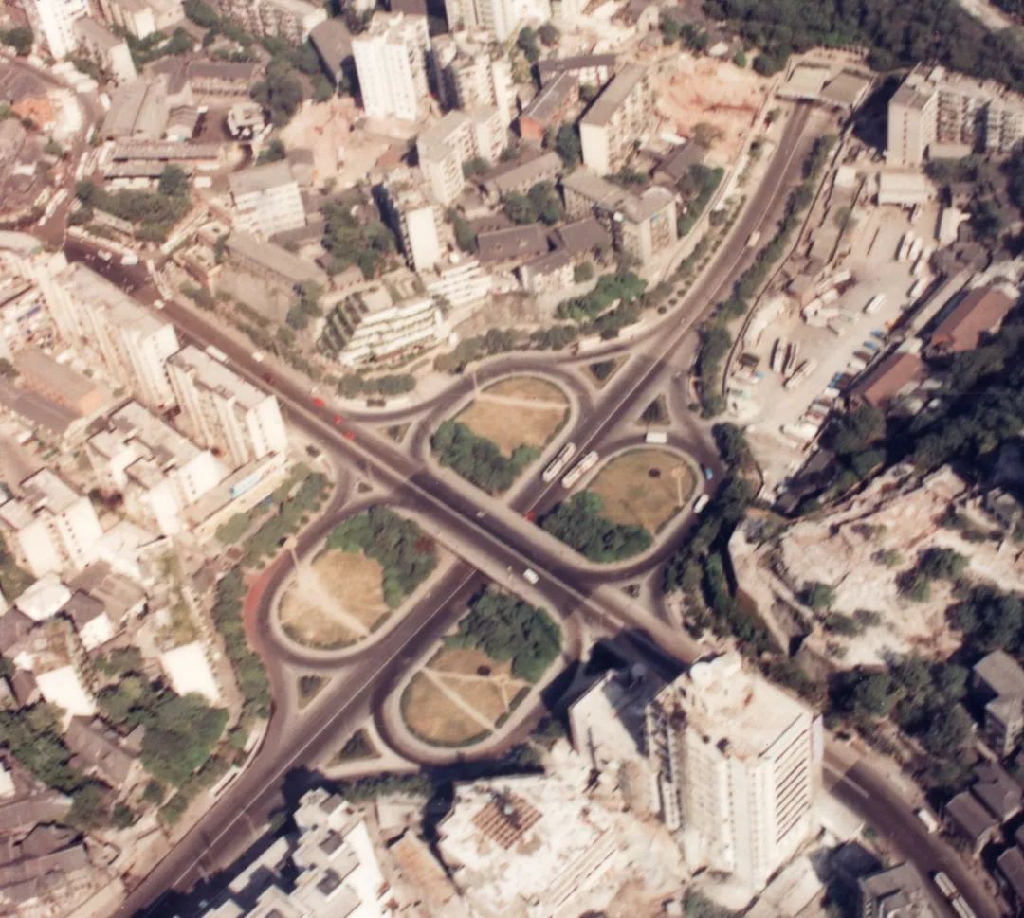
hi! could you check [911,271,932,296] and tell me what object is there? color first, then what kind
white bus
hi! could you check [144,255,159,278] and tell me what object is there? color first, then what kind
white vehicle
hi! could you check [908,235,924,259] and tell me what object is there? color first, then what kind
white vehicle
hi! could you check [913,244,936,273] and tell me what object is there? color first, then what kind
white bus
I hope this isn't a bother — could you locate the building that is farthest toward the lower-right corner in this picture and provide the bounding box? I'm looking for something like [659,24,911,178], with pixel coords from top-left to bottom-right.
[995,844,1024,910]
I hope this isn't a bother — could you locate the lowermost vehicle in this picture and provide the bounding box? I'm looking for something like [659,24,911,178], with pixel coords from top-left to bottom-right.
[936,872,973,918]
